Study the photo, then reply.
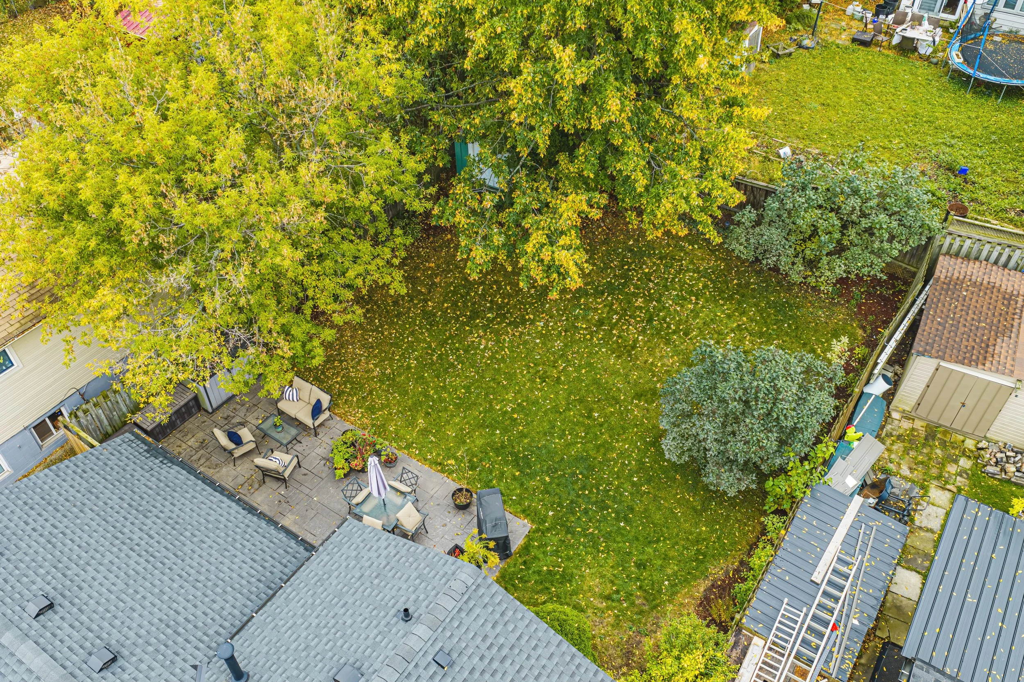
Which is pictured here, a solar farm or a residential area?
residential area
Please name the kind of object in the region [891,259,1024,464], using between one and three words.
shed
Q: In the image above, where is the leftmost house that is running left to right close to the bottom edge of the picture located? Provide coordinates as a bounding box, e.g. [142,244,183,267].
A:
[0,425,622,682]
